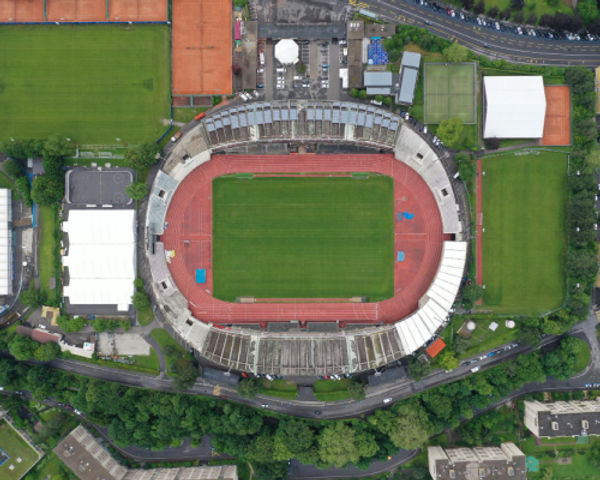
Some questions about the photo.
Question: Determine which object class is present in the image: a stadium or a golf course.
stadium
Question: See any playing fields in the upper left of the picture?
Yes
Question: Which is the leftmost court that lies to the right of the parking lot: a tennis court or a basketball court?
tennis court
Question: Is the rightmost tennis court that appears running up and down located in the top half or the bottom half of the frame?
top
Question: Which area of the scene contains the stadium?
center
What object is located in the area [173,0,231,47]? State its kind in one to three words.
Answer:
tennis court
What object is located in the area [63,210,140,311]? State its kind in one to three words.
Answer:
building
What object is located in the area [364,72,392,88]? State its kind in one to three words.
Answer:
building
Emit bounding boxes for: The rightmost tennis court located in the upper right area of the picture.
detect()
[541,86,570,145]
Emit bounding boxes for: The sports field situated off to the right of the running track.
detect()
[476,151,569,313]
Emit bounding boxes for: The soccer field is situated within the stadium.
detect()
[212,173,394,303]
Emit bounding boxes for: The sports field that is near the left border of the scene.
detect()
[0,25,169,146]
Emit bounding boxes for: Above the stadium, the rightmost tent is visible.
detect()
[275,41,298,66]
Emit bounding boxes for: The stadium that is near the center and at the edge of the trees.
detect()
[144,98,468,379]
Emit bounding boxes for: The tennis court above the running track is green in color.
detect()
[425,63,475,124]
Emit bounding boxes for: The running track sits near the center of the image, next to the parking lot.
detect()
[163,154,443,323]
